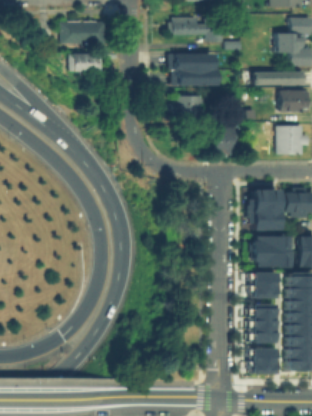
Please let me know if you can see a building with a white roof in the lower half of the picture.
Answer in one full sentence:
No, I see no building with a white roof in the lower half of the picture.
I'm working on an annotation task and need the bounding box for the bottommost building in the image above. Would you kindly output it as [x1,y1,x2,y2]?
[244,349,280,374]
